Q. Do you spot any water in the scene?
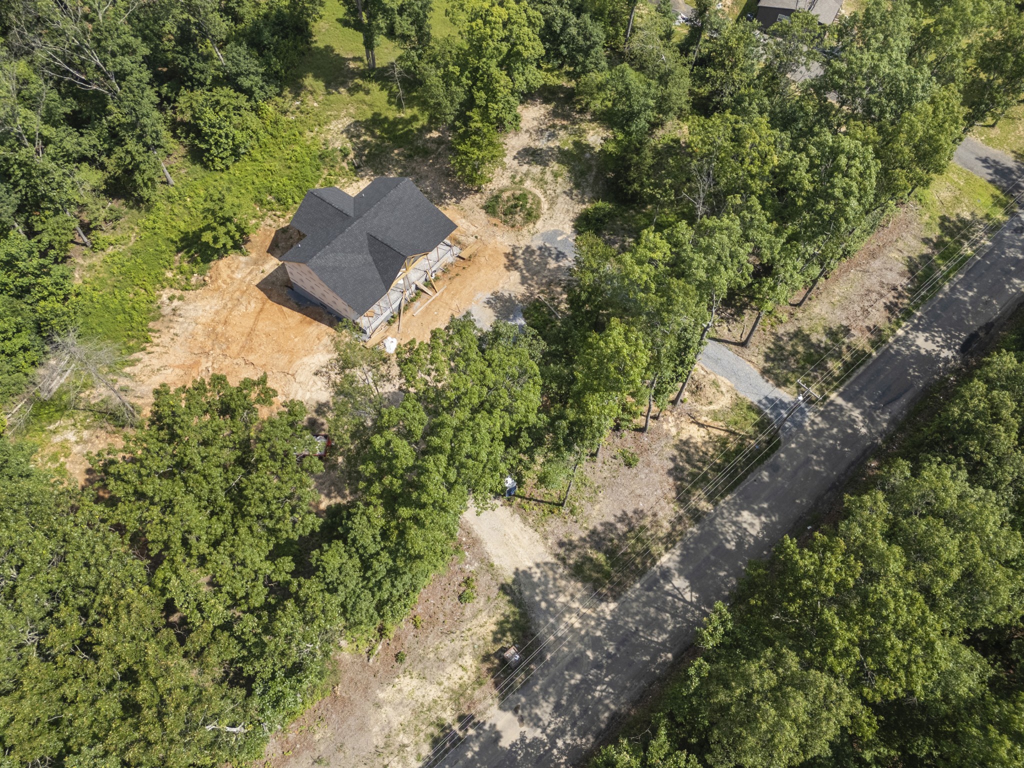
No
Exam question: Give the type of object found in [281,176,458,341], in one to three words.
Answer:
house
